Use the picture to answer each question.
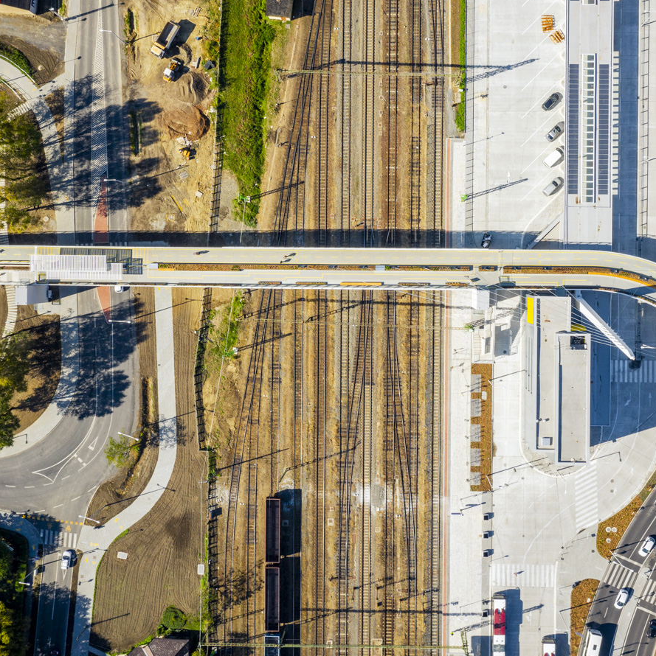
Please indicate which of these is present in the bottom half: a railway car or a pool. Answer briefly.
railway car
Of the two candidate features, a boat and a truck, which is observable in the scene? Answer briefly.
truck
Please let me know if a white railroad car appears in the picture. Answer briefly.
No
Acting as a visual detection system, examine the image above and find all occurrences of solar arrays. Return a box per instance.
[571,63,580,194]
[600,63,610,194]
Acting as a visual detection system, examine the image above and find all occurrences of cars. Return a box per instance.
[61,548,74,572]
[114,288,125,297]
[542,90,563,113]
[544,120,565,144]
[480,229,493,249]
[613,586,631,611]
[639,533,656,558]
[542,145,565,171]
[647,618,656,641]
[543,175,565,199]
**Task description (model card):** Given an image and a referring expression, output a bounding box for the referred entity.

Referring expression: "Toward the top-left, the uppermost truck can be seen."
[148,15,182,60]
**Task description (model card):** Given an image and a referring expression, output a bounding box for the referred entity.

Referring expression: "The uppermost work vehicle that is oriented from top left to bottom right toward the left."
[178,146,198,165]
